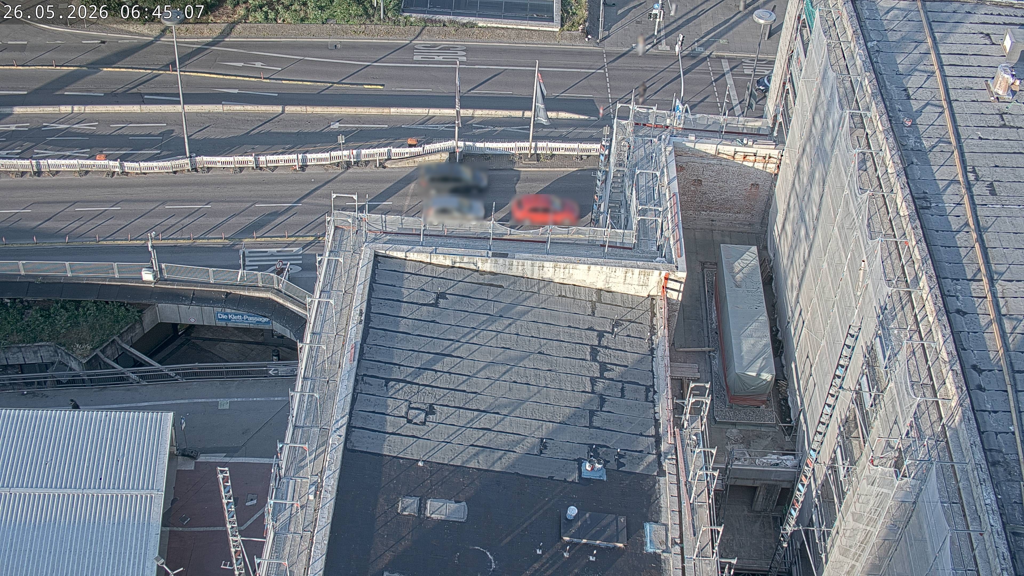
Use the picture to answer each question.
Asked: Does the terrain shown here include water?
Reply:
No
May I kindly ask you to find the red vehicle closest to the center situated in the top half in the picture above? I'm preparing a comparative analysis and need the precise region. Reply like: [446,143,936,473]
[509,190,581,228]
